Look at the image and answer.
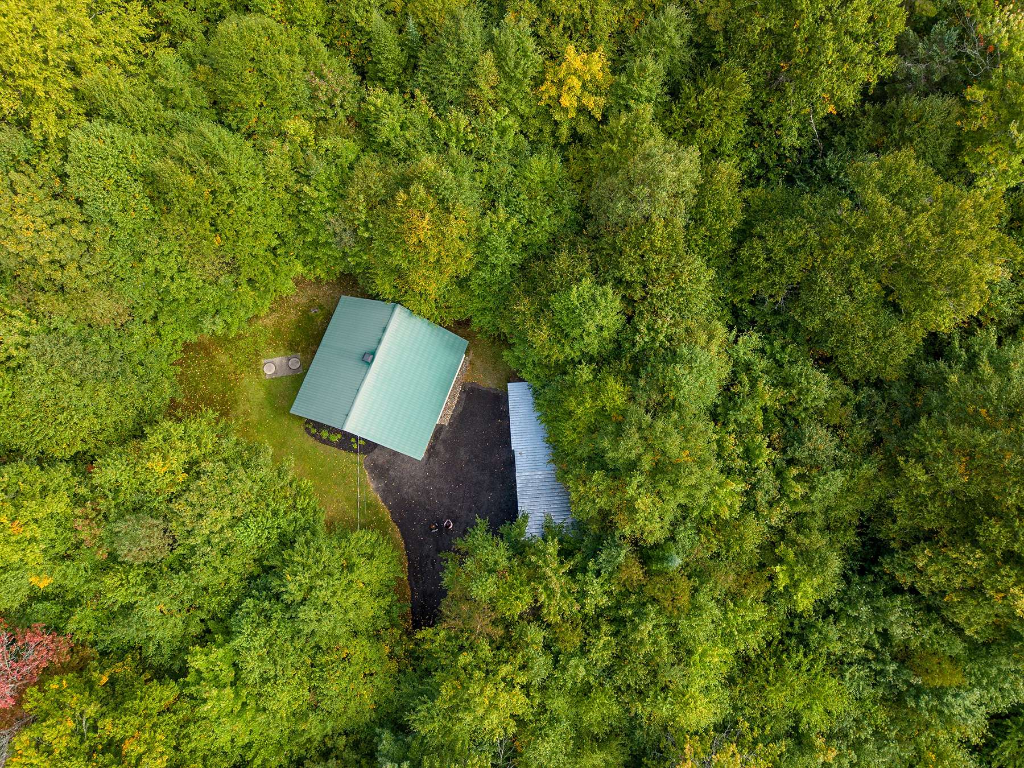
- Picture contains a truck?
No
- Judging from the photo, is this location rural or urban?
rural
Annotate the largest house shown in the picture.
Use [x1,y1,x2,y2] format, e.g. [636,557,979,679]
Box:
[291,295,469,462]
